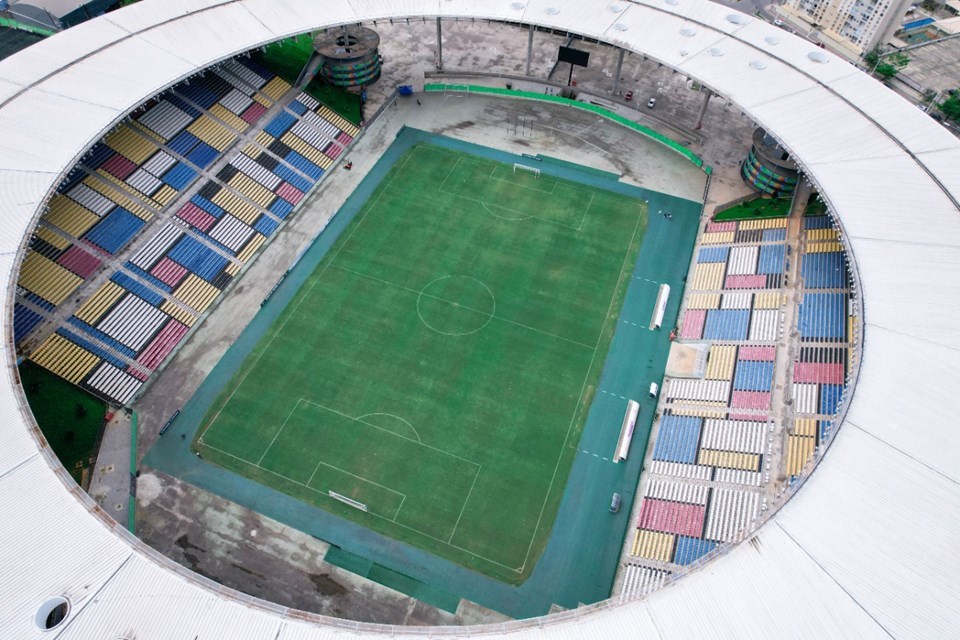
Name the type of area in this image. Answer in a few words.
sports ground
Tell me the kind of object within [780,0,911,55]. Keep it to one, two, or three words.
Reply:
building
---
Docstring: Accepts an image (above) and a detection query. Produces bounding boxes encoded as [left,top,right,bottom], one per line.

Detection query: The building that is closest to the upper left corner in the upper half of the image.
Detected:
[48,2,138,30]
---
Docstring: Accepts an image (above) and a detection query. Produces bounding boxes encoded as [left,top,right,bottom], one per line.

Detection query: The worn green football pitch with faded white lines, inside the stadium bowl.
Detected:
[139,127,701,621]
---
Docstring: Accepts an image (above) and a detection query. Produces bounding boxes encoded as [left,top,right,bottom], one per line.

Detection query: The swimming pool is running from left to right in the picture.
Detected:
[897,16,933,31]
